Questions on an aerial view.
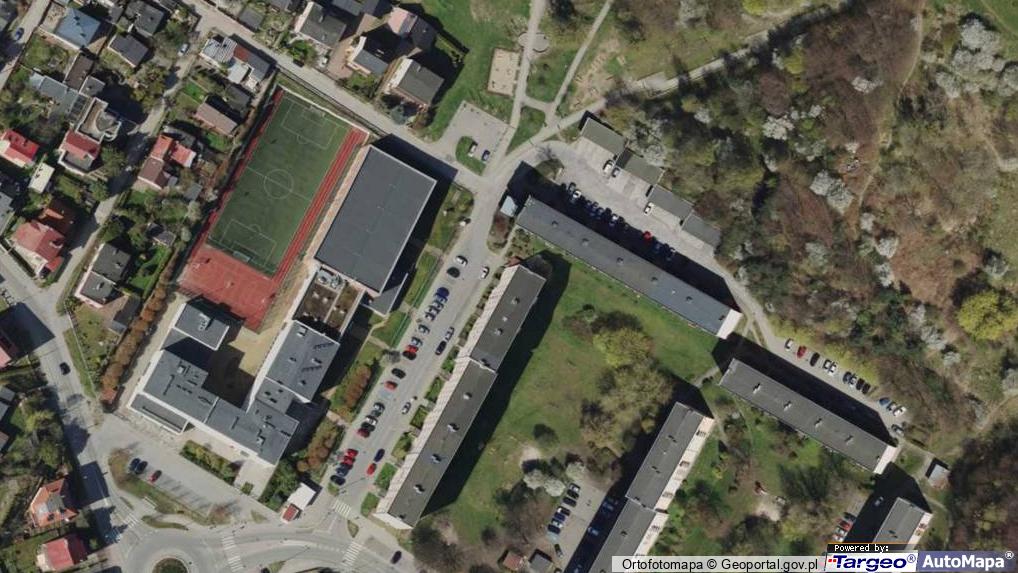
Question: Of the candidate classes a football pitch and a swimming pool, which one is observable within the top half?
football pitch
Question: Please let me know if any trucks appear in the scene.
No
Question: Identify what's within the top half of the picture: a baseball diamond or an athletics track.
athletics track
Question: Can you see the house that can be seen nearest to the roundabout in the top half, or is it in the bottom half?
bottom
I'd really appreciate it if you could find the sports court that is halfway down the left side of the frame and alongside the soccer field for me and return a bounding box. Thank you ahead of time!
[177,244,274,334]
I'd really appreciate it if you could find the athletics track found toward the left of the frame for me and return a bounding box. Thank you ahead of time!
[178,86,369,287]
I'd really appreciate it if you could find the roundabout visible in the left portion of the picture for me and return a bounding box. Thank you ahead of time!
[123,530,216,573]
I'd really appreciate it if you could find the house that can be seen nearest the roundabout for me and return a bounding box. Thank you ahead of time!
[41,534,90,572]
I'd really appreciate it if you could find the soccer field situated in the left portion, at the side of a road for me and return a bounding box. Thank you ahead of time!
[209,91,350,278]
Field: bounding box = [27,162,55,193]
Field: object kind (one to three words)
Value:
building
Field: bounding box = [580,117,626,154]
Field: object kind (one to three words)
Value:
building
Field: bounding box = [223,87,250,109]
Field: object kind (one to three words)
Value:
shed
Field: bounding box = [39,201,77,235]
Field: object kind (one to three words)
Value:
house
